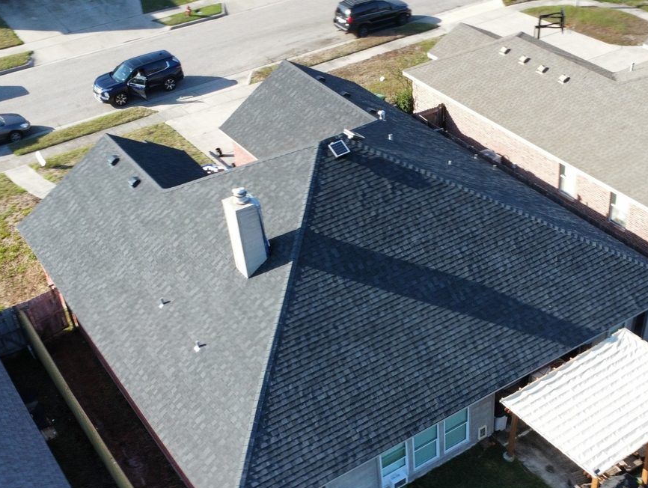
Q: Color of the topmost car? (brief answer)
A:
black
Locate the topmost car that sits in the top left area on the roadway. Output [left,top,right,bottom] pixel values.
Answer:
[83,44,185,104]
